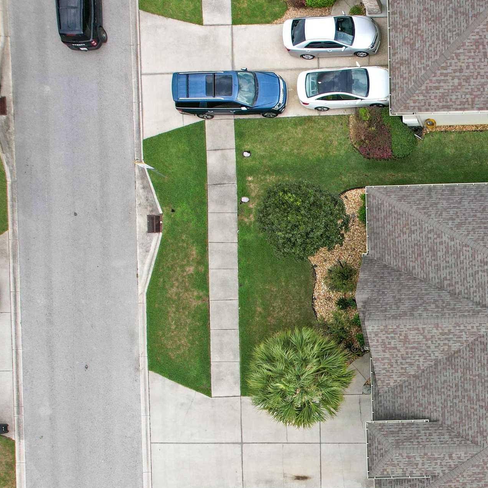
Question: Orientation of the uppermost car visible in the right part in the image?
horizontally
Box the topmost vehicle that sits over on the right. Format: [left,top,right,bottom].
[281,10,379,60]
